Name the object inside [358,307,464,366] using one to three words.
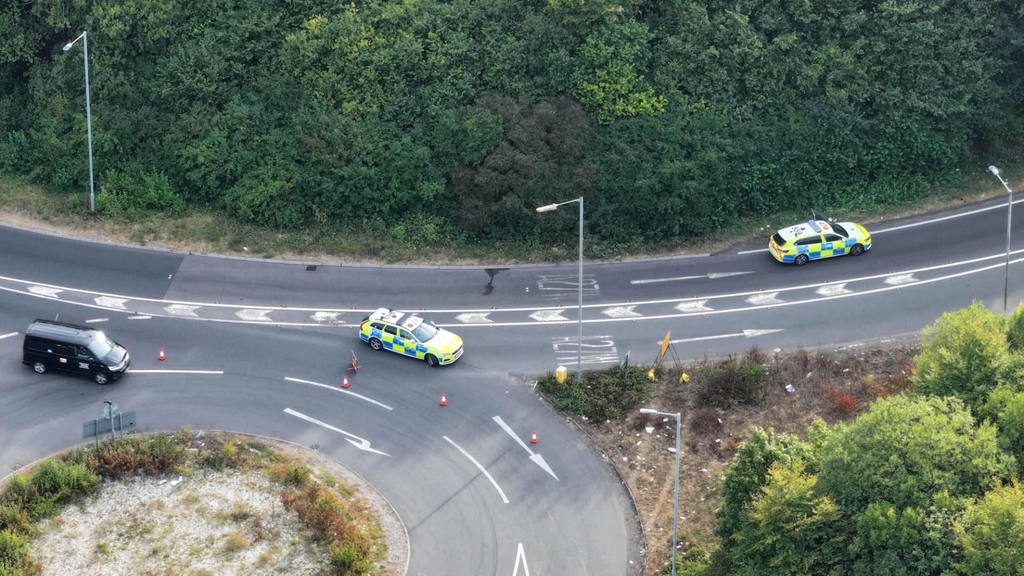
car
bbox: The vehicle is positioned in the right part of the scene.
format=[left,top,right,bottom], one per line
[768,208,872,265]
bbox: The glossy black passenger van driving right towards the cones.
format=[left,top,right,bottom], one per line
[19,315,130,383]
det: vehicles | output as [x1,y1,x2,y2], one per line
[358,307,464,366]
[768,208,872,265]
[19,315,130,383]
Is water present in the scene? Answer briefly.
No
